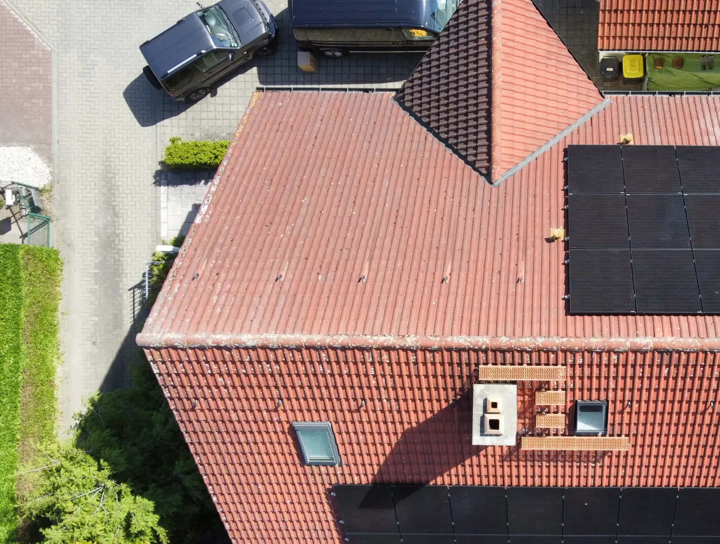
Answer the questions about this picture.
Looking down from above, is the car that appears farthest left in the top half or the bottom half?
top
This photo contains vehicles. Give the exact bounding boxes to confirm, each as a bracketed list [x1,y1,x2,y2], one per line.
[136,0,284,105]
[288,0,456,57]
